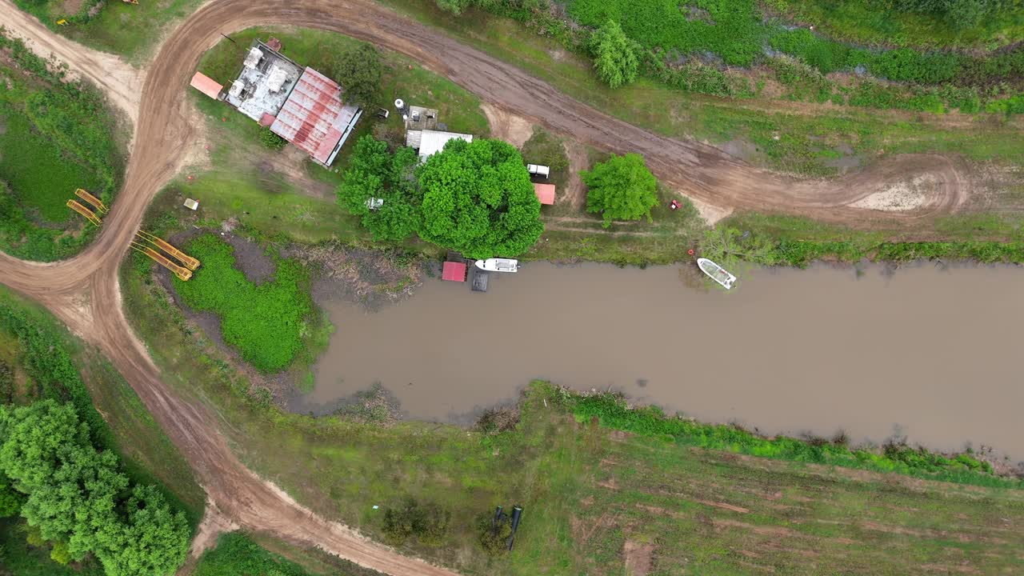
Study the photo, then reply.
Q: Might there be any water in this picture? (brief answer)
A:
Yes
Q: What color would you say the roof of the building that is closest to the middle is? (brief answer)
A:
red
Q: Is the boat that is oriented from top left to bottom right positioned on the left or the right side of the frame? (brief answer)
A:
right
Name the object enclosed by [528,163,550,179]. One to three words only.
vehicle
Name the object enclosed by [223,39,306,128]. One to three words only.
house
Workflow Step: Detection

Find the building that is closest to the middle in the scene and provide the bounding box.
[442,260,469,282]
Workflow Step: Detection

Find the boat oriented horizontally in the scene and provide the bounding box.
[476,258,521,272]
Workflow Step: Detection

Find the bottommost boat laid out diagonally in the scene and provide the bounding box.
[699,253,737,291]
